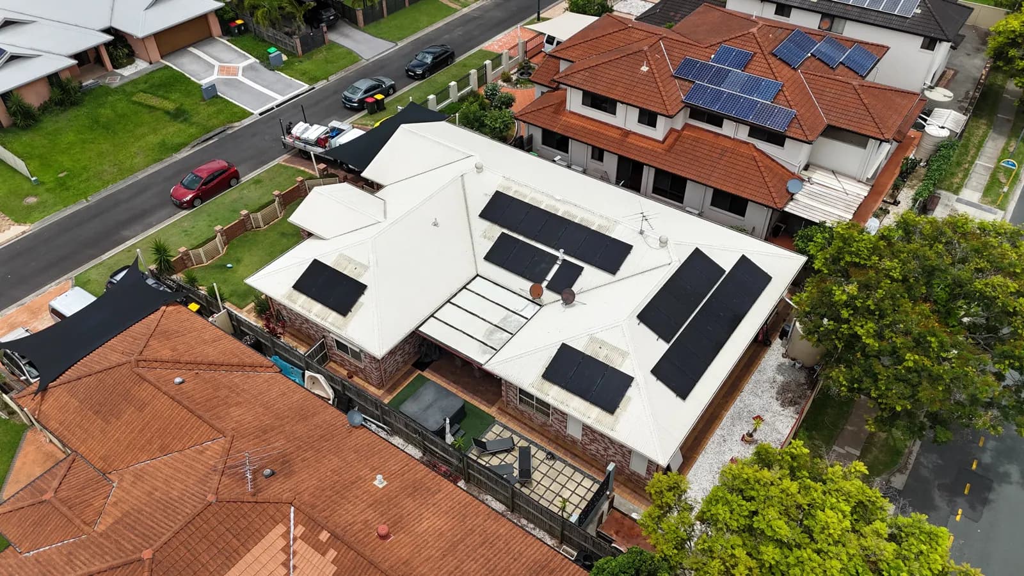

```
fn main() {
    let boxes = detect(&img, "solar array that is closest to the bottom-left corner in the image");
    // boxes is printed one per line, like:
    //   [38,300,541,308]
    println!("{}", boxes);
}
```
[292,260,366,316]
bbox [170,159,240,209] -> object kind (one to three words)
car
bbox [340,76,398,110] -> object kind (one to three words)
car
